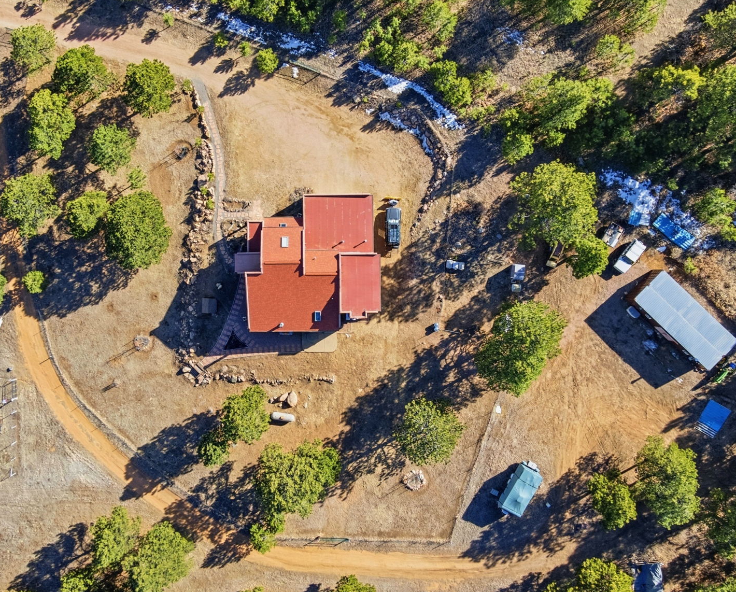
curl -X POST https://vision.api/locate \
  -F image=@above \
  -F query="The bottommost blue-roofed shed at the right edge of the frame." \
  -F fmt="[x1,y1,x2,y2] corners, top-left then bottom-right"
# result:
[688,398,731,439]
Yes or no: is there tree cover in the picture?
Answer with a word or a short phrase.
Yes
